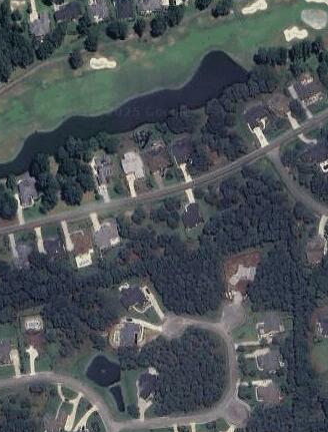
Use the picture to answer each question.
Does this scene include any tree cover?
Yes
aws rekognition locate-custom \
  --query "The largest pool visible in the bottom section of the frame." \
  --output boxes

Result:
[24,318,41,330]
